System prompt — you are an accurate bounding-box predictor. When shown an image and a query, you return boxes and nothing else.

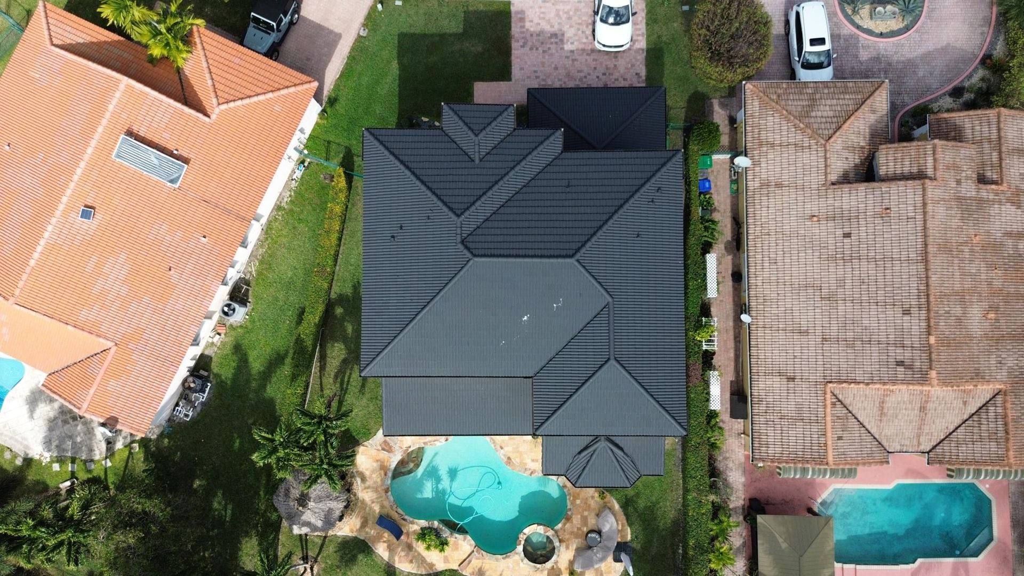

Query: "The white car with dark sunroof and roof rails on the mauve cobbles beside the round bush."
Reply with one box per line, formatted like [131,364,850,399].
[788,0,841,79]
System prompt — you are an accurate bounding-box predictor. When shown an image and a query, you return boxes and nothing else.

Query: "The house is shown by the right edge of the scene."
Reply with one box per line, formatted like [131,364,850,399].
[730,78,1024,480]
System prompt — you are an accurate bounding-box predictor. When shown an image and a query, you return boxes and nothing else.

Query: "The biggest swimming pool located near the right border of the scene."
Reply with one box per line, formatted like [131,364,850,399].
[821,484,991,563]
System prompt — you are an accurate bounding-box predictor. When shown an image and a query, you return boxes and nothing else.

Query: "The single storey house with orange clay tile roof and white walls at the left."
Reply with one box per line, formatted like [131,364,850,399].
[0,0,326,438]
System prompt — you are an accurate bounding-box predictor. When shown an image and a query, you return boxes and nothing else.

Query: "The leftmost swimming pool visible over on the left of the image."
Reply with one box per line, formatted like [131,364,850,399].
[0,358,24,412]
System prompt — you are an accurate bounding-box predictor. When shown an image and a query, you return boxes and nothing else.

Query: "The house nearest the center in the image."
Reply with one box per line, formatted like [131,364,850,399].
[359,85,689,489]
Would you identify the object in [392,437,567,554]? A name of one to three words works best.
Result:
swimming pool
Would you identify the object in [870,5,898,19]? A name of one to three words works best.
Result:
fountain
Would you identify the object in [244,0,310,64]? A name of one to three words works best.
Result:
car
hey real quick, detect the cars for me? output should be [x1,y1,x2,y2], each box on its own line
[244,0,310,64]
[788,0,841,79]
[591,0,638,51]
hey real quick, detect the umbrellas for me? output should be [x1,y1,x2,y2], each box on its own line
[276,455,360,536]
[619,551,635,576]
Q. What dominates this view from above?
buildings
